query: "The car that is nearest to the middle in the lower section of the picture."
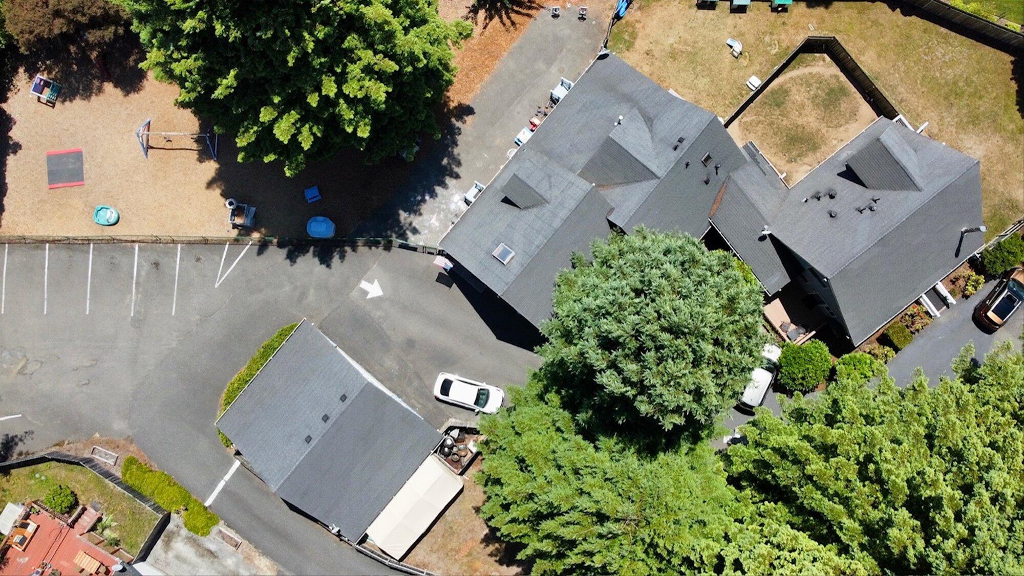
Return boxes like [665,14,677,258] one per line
[432,375,505,417]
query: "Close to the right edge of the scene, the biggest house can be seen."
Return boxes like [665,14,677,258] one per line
[765,116,989,347]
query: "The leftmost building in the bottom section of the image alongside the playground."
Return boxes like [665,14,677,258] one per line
[214,319,443,543]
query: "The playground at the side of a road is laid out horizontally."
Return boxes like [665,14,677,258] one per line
[0,0,546,241]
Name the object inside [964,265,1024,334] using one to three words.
car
